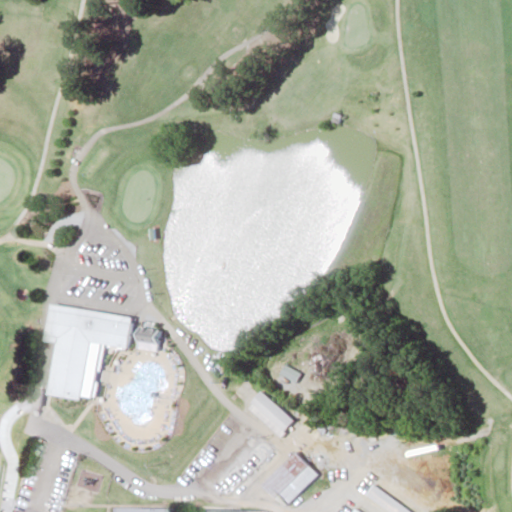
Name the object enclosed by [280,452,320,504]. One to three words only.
building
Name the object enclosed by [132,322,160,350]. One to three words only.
building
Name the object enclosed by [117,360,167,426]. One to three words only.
swimming pool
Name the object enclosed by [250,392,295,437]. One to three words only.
barn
